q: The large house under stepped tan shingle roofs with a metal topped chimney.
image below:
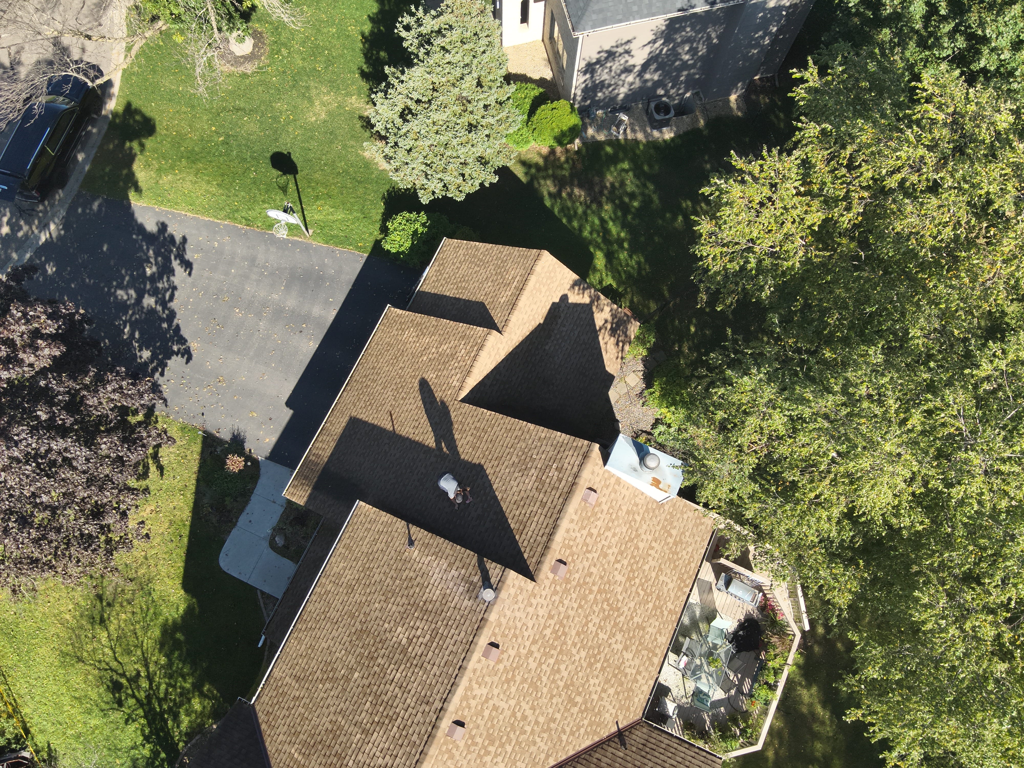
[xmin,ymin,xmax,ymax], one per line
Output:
[184,238,725,768]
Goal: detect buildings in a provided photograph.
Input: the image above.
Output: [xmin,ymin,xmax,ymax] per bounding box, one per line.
[184,238,725,768]
[489,0,807,129]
